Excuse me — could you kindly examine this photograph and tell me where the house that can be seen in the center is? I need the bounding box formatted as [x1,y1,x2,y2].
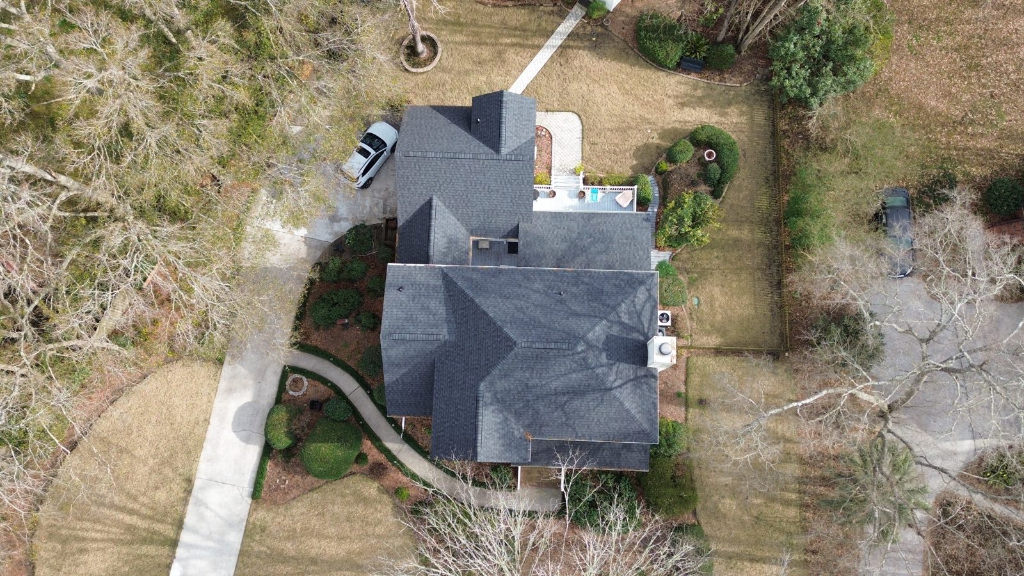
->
[381,88,680,489]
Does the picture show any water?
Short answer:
No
